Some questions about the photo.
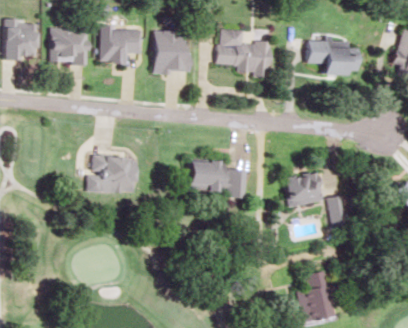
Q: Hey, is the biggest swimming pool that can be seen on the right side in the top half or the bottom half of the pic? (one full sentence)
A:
You can find the biggest swimming pool that can be seen on the right side in the bottom half.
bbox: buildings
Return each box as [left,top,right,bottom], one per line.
[50,27,91,65]
[305,37,362,76]
[298,271,338,328]
[154,31,192,75]
[100,26,141,66]
[4,18,40,60]
[326,196,344,225]
[84,156,140,194]
[216,30,274,78]
[390,28,408,78]
[288,172,324,208]
[193,161,247,198]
